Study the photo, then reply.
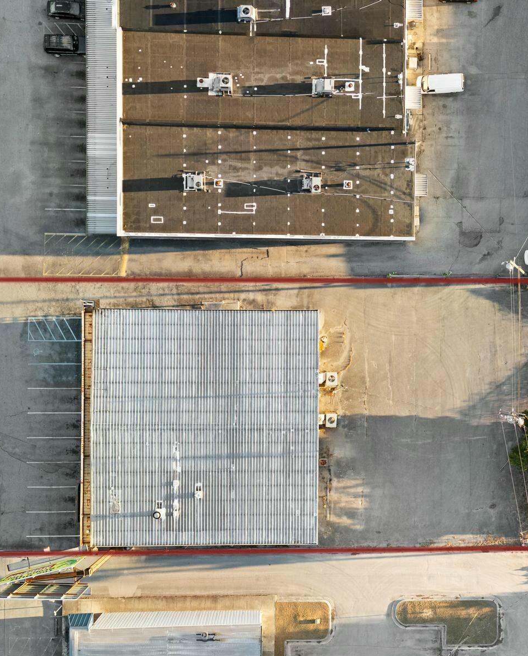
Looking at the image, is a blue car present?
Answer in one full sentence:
No, this view has no blue car in it.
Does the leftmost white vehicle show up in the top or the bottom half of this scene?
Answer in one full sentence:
It is in the top half that the leftmost white vehicle appears.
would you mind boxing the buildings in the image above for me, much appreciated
[78,300,320,547]
[86,0,429,248]
[67,603,262,656]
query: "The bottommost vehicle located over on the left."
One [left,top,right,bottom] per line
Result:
[43,33,86,56]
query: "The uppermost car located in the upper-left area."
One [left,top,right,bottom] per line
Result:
[45,0,86,21]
